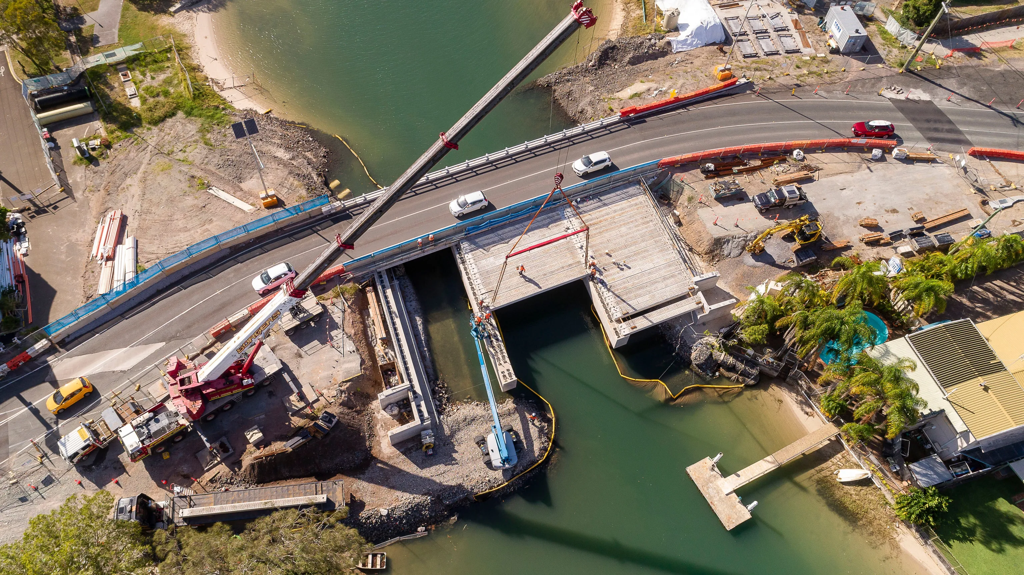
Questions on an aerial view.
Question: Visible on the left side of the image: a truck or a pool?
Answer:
truck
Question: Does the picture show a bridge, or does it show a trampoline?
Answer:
bridge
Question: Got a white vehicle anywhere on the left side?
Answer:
Yes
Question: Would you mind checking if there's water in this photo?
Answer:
Yes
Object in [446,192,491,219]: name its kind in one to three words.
car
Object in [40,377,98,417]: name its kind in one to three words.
car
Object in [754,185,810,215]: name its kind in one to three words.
truck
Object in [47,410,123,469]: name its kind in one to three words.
truck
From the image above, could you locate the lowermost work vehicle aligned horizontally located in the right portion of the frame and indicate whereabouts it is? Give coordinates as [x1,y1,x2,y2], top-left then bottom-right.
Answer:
[749,211,830,254]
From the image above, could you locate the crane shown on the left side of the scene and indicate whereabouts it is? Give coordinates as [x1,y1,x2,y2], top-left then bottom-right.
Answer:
[115,7,597,463]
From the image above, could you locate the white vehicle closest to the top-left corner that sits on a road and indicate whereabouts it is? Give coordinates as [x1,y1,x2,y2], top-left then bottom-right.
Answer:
[248,262,296,296]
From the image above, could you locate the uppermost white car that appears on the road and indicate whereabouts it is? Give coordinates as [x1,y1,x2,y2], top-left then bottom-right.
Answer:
[571,151,613,177]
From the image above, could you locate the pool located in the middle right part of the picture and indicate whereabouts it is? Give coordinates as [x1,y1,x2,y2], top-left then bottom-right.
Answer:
[817,307,892,371]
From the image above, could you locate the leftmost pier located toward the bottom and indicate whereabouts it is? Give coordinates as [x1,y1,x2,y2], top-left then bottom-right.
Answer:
[684,452,759,532]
